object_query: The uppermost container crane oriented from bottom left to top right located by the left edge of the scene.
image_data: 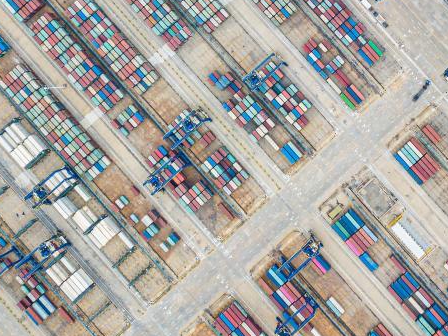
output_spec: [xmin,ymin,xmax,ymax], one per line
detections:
[19,163,82,217]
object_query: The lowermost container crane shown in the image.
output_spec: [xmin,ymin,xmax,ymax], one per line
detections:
[269,288,318,336]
